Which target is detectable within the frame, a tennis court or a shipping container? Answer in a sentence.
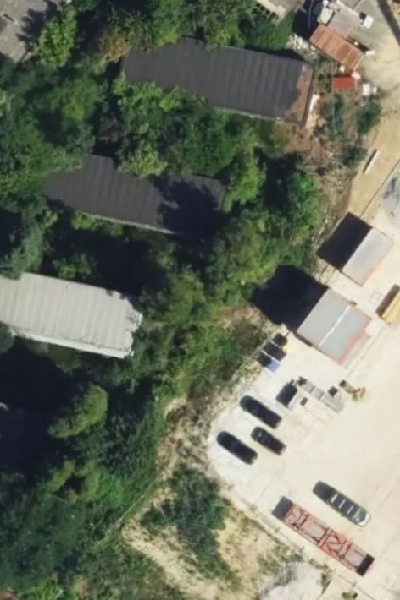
Of the two, only a shipping container appears.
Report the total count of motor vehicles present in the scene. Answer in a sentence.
There are 4 motor vehicles in the image.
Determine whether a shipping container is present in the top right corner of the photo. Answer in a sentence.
Yes, you'll find a shipping container in the top right corner of the photo.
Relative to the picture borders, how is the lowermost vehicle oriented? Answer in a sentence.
What the image shows is the lowermost vehicle lying at an angle.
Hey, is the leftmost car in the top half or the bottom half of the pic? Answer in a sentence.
The leftmost car sits in the bottom half of the picture.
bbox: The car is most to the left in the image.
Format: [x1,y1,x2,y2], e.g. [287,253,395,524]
[219,432,258,465]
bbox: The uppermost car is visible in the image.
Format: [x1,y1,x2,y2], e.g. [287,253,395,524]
[243,397,283,429]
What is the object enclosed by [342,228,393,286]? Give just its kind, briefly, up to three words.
building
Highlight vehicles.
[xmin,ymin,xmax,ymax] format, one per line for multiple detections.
[252,427,286,454]
[243,397,283,429]
[320,486,369,525]
[219,432,258,465]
